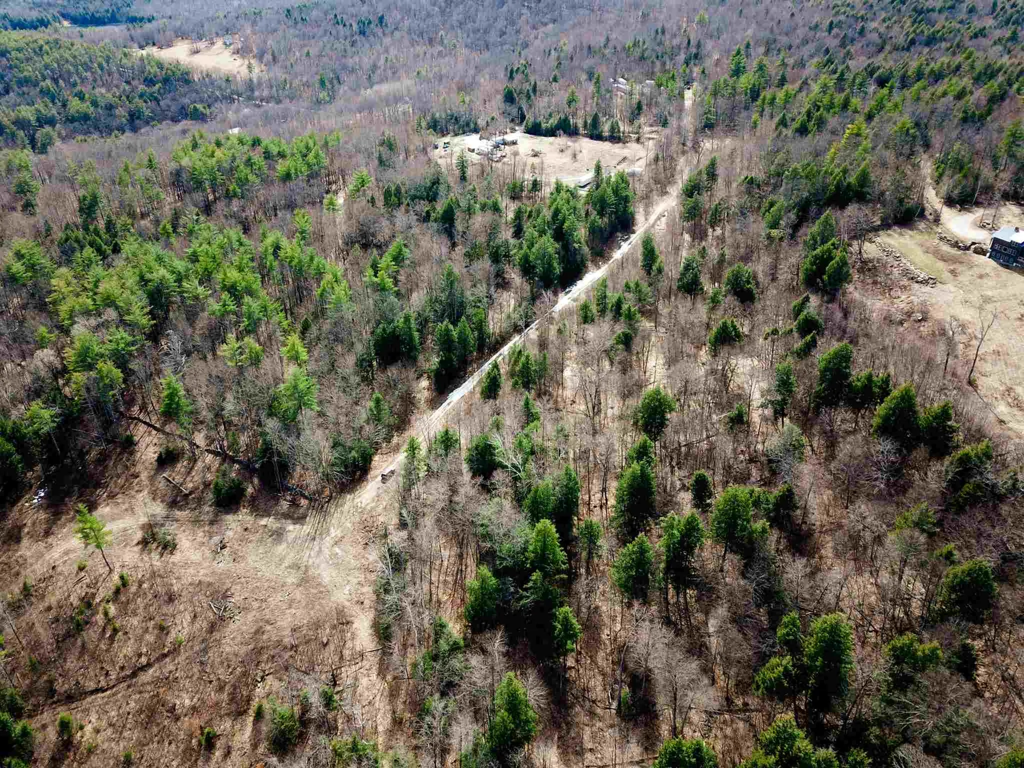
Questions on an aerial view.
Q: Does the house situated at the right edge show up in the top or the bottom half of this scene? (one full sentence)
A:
The house situated at the right edge sits in the top half of the picture.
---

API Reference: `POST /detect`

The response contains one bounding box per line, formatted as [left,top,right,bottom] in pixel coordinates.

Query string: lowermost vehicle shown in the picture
[382,462,399,477]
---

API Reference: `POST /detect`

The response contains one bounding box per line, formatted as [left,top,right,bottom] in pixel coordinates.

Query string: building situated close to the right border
[984,223,1024,274]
